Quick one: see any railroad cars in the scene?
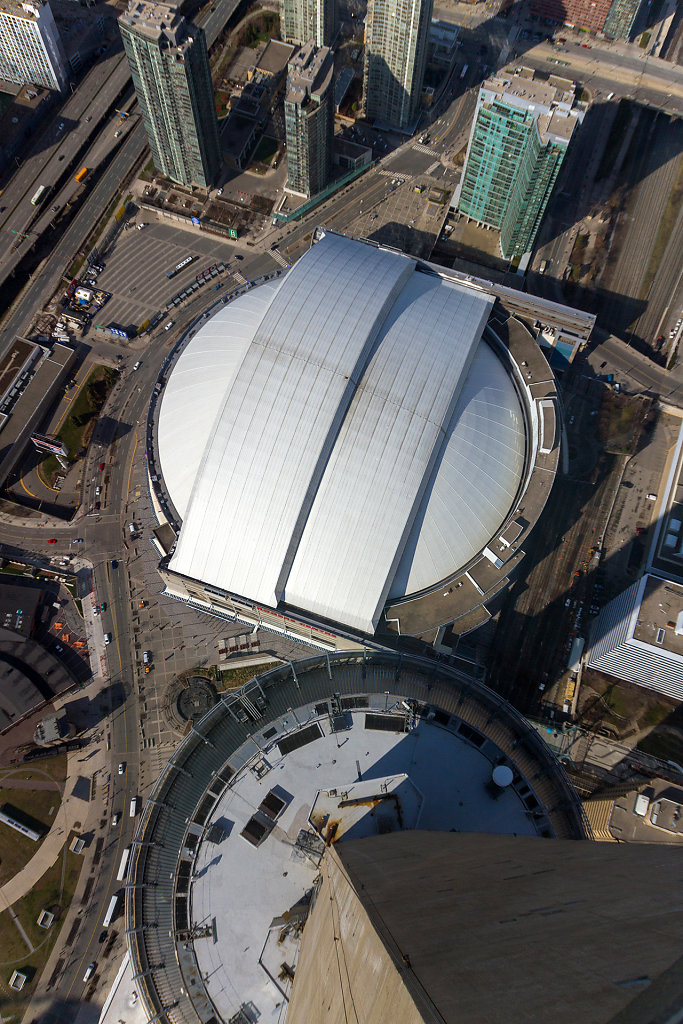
Yes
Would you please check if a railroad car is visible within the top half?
No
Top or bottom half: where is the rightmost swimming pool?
top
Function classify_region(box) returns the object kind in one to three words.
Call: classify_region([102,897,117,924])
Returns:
vehicle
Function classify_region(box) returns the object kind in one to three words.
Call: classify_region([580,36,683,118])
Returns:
bridge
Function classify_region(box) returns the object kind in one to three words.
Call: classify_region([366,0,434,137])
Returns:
building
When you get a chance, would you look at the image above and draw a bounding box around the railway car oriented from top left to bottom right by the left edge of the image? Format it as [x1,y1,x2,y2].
[0,808,42,840]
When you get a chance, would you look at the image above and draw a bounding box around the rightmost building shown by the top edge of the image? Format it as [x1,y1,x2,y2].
[604,0,647,41]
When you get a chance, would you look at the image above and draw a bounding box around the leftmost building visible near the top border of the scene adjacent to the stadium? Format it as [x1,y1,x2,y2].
[120,0,226,194]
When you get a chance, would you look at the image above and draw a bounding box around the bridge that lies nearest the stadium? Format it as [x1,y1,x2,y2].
[577,326,683,410]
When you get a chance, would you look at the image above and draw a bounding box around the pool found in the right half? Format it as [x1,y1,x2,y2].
[550,343,574,370]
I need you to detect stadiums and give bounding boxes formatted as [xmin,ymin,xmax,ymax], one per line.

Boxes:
[145,229,596,684]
